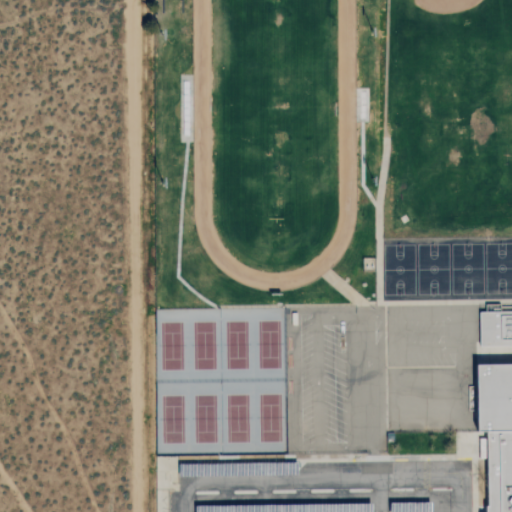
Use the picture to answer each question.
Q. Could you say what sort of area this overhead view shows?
sports ground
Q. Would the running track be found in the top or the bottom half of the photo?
top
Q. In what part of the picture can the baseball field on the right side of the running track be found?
top right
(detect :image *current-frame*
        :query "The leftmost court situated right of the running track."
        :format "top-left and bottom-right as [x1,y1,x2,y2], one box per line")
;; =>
[384,244,418,297]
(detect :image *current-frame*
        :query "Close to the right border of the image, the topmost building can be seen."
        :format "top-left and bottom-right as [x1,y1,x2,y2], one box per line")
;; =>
[480,311,512,346]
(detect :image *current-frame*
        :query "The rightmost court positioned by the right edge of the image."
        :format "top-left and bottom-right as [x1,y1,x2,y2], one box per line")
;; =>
[486,242,512,296]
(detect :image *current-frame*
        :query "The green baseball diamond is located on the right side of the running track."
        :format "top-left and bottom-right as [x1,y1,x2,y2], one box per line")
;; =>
[390,0,512,227]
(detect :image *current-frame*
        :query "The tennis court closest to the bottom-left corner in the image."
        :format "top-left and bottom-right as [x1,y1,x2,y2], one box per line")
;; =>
[163,396,185,443]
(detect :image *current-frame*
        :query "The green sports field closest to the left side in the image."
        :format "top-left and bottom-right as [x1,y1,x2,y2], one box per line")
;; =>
[212,0,339,272]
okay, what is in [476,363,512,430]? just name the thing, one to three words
building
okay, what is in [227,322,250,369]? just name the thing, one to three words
tennis court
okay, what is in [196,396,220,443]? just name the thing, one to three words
tennis court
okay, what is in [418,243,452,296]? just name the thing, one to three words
basketball court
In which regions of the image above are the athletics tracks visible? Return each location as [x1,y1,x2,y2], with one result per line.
[194,0,357,292]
